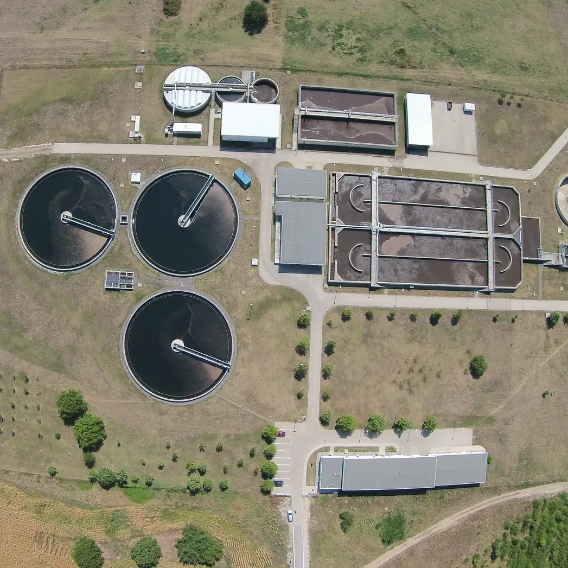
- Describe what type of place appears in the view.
industrial area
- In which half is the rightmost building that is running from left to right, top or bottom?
bottom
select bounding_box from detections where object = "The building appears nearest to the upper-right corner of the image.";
[404,93,432,148]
